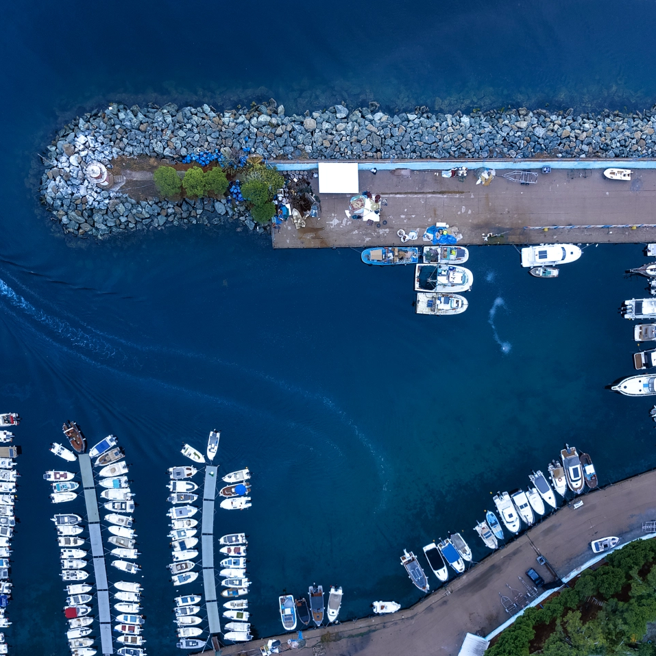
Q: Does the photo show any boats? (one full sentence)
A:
Yes, the picture does show a boat.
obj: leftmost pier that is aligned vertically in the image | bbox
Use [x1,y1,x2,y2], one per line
[78,453,114,653]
